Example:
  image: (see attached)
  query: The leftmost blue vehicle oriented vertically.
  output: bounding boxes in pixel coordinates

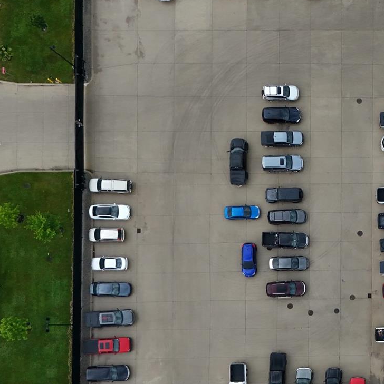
[241,243,258,279]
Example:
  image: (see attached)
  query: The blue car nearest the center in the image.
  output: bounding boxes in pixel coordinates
[224,204,261,222]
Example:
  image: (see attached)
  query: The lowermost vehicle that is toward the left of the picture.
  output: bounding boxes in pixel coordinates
[85,363,133,383]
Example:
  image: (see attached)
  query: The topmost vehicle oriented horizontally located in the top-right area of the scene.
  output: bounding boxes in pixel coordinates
[260,83,301,102]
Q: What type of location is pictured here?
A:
parking lot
